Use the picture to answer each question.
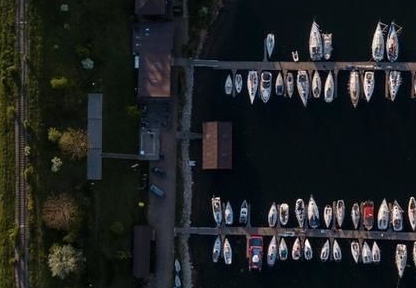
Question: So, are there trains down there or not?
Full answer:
No, there's no train here.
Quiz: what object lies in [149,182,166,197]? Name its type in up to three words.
vehicle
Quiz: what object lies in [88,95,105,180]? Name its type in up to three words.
building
